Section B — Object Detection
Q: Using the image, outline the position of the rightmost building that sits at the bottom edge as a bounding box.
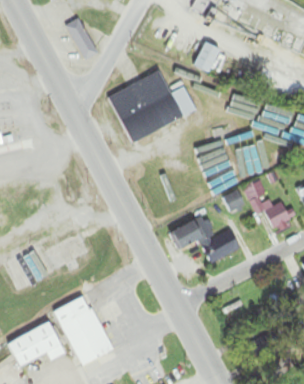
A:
[54,296,112,366]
